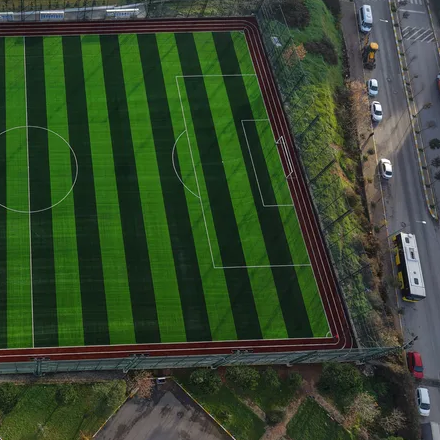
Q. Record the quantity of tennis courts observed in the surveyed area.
0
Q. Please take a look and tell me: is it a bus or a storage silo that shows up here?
bus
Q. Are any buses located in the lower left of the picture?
No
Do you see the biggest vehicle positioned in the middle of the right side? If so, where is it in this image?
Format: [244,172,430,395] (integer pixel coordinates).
[390,226,435,296]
